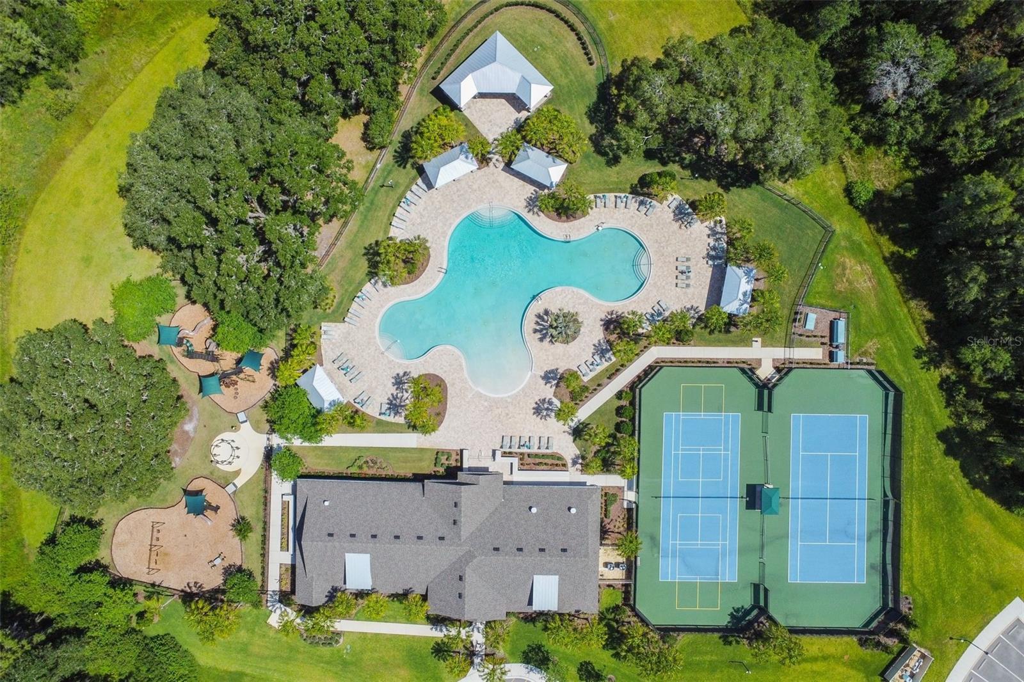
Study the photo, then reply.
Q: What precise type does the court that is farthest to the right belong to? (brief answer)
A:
tennis court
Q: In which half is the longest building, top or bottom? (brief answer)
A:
bottom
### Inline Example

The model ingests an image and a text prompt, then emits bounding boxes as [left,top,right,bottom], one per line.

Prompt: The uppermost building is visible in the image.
[439,30,554,112]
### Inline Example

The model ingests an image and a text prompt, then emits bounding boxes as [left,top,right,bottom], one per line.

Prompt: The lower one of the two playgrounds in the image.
[110,476,243,592]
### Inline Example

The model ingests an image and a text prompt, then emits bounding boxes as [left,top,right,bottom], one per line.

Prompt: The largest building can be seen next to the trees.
[295,469,604,623]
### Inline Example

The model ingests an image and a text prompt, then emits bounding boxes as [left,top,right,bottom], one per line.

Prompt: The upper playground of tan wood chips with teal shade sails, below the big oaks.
[168,302,279,414]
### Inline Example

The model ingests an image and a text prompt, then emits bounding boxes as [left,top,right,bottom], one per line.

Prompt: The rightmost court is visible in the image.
[764,368,893,628]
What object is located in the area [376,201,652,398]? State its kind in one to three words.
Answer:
swimming pool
